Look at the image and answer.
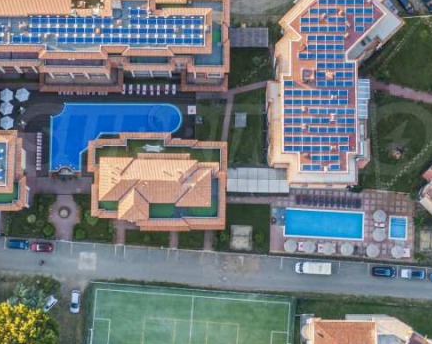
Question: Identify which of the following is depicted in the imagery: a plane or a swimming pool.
swimming pool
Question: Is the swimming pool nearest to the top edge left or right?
left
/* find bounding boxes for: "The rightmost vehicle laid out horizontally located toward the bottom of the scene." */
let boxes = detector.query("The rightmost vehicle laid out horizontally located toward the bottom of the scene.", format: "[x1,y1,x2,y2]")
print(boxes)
[400,268,426,281]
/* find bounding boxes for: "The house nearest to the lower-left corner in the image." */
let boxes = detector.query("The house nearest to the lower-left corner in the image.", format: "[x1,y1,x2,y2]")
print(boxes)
[88,134,227,231]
